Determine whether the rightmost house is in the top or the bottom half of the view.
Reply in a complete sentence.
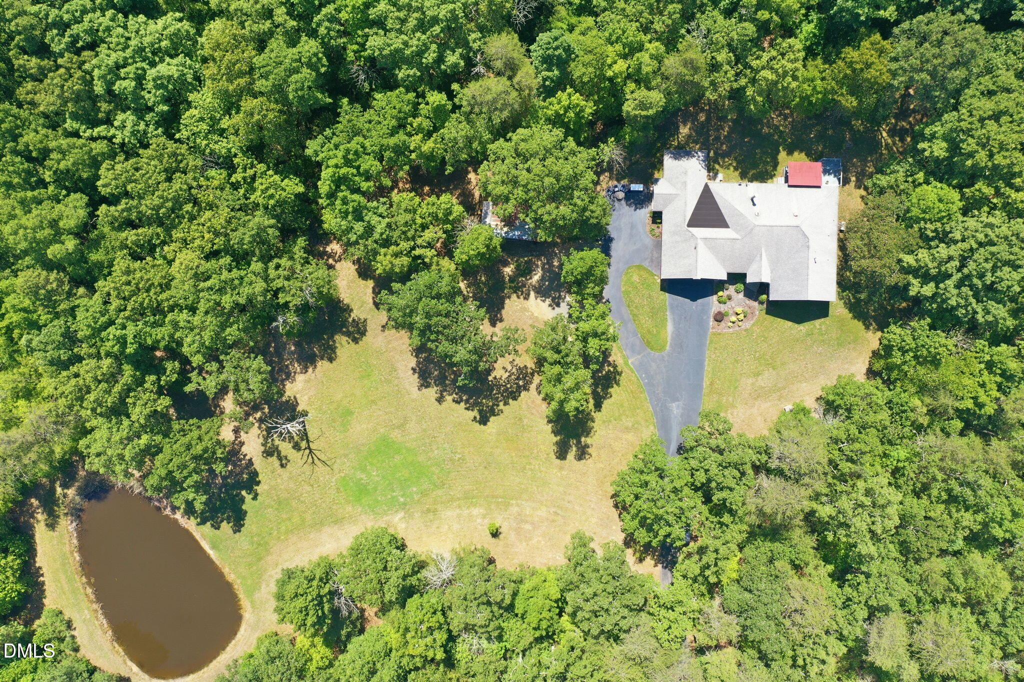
The top half of the photo is where the rightmost house is.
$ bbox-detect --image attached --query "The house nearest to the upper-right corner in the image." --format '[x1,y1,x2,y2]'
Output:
[652,149,839,300]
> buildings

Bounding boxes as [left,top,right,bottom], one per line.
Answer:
[652,149,839,300]
[483,200,543,246]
